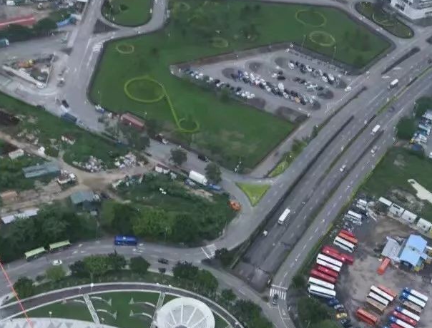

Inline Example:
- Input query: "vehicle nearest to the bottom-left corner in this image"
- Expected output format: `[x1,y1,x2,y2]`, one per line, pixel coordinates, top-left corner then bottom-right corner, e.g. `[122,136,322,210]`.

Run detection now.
[24,247,46,260]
